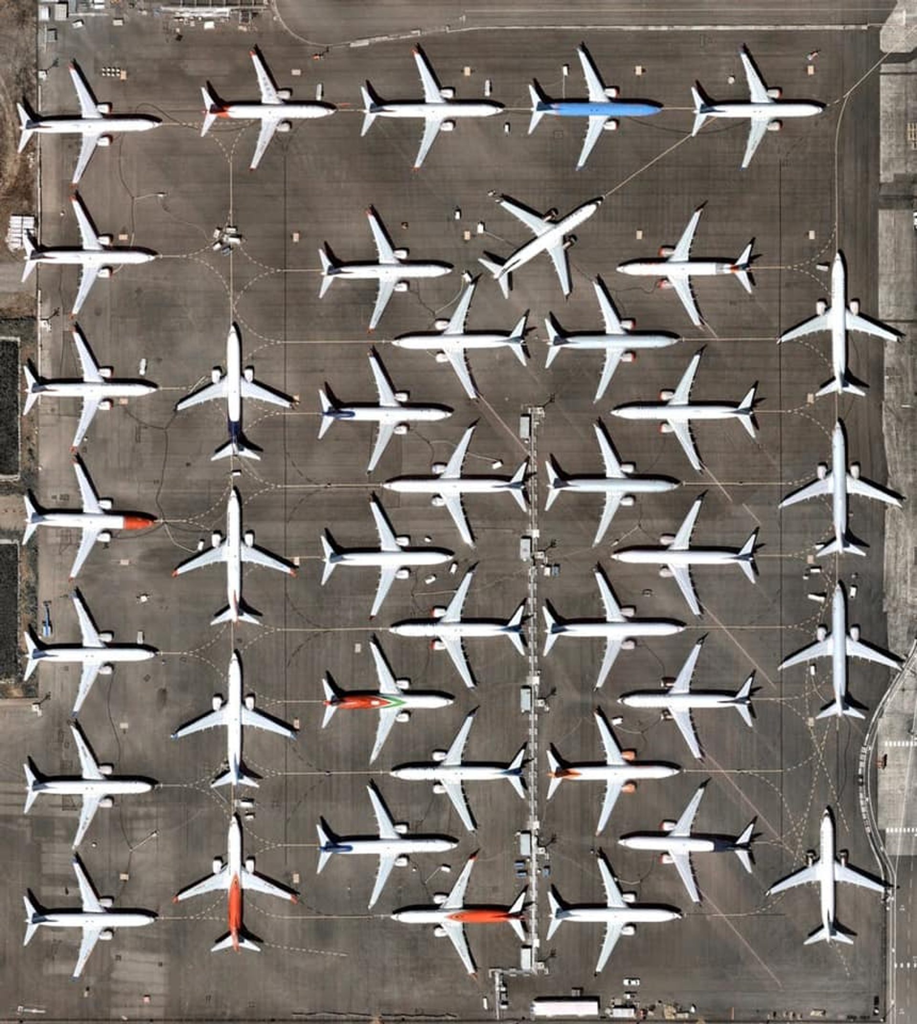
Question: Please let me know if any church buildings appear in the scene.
No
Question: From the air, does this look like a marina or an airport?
airport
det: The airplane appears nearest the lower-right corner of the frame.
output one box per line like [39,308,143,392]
[767,809,890,943]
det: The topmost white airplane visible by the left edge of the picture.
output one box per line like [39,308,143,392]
[17,64,161,187]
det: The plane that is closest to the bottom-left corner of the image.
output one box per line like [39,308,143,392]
[22,859,156,982]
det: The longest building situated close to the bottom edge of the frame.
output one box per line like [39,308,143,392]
[530,1002,598,1018]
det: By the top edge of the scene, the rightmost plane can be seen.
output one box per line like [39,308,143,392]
[691,49,825,172]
